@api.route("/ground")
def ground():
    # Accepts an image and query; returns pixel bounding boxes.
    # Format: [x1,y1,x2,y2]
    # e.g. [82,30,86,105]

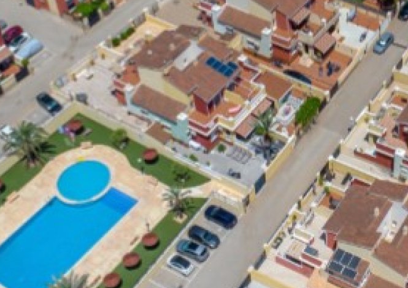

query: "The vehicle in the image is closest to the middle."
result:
[205,207,237,229]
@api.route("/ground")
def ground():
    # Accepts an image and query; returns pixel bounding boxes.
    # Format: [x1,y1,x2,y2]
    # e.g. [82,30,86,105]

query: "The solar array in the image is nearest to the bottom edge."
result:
[331,250,361,282]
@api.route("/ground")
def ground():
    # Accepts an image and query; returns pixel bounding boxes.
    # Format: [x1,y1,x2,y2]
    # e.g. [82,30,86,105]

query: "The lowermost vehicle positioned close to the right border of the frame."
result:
[374,33,393,53]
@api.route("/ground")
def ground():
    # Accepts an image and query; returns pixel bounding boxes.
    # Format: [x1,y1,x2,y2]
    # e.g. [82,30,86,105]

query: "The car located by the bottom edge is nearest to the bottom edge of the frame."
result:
[164,252,197,278]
